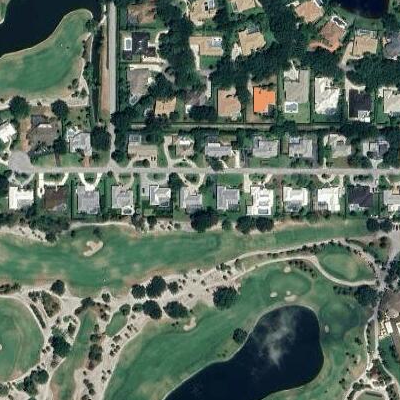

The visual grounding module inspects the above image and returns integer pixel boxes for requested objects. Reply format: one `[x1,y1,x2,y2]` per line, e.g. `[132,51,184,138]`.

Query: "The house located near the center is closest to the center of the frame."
[179,187,204,210]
